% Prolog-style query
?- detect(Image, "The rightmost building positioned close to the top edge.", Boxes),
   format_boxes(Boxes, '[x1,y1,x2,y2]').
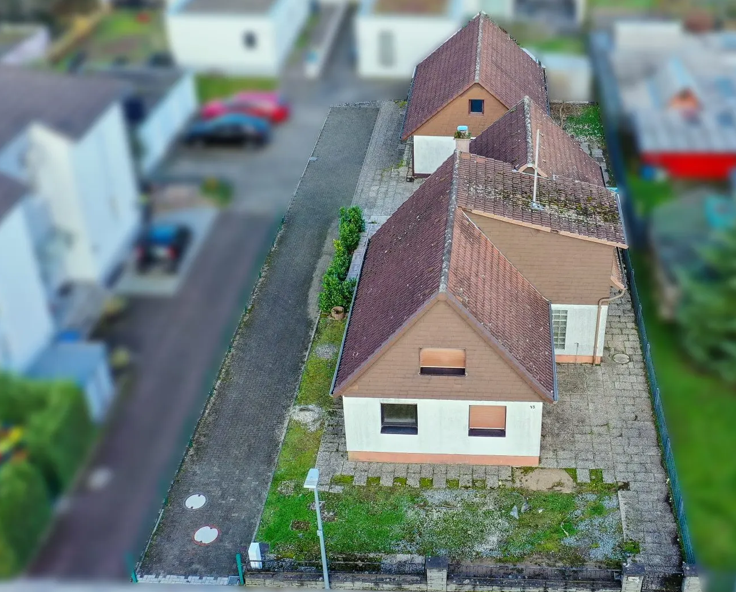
[614,3,736,191]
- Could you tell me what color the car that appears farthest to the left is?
blue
